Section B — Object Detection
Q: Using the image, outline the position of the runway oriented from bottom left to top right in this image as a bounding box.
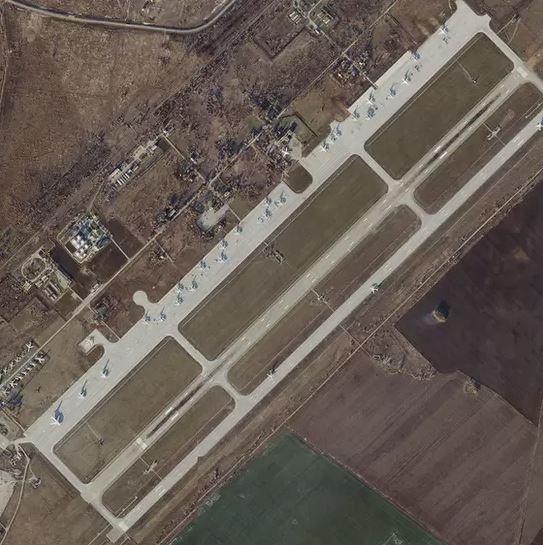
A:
[85,64,532,499]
